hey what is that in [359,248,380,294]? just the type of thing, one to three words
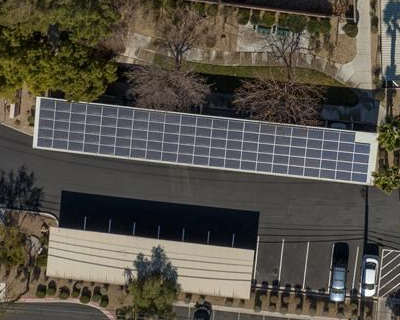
car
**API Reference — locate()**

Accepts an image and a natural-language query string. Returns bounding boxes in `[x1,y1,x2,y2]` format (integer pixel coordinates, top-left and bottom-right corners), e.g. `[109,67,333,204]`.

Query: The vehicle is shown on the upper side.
[328,110,349,129]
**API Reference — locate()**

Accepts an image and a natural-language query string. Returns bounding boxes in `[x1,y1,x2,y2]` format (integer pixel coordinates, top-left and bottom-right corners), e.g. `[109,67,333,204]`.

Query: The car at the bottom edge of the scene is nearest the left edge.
[187,298,209,320]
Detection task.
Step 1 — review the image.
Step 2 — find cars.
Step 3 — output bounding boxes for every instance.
[187,298,209,320]
[327,248,348,295]
[328,110,349,129]
[359,248,380,294]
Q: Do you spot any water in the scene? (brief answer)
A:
No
